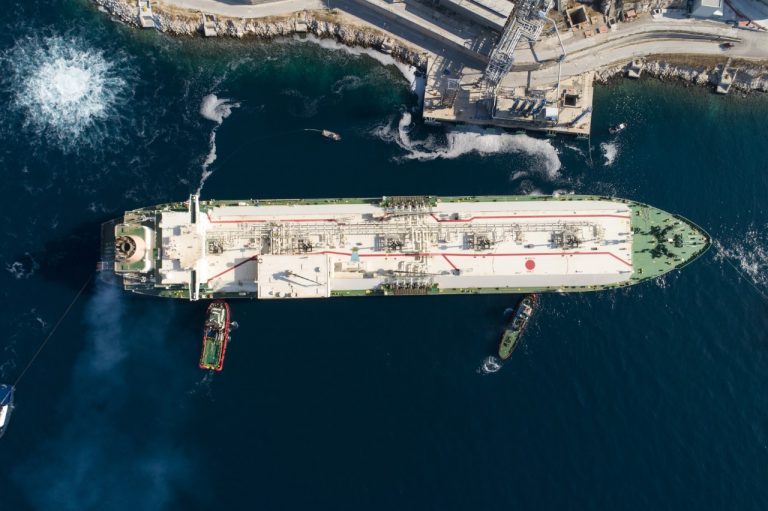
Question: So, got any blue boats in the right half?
No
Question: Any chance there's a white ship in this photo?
Yes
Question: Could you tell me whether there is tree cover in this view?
No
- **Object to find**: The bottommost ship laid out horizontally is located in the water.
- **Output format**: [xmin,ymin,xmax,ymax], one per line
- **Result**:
[92,194,714,300]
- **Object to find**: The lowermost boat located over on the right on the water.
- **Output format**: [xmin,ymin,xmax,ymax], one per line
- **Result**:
[500,295,534,359]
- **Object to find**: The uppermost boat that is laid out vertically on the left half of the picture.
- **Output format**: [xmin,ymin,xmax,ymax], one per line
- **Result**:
[200,301,229,371]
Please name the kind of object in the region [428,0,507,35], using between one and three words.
building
